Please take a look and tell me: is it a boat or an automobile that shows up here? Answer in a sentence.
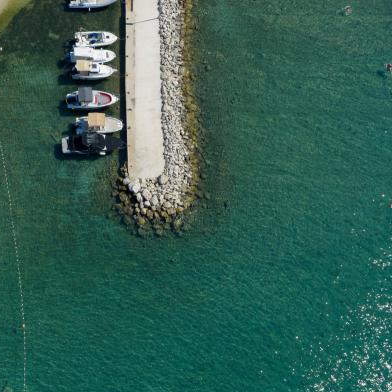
The one in the frame is a boat.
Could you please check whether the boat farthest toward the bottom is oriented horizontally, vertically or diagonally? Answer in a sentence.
I'd say the boat farthest toward the bottom is aligned horizontally in the picture.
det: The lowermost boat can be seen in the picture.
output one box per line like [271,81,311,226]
[57,133,128,158]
